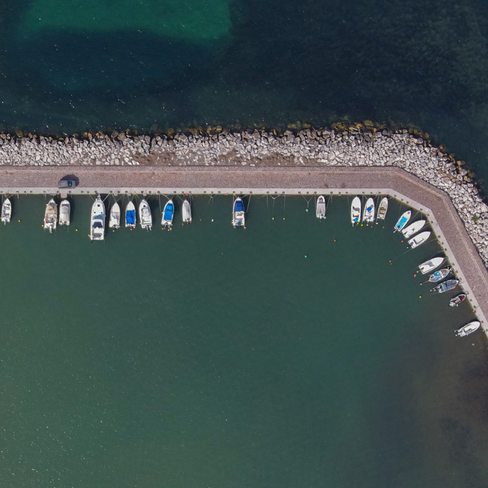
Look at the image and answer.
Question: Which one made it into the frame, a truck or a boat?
boat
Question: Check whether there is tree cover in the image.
No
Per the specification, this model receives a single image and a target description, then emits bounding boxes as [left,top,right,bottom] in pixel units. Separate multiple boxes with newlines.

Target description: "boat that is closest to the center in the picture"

[230,193,245,229]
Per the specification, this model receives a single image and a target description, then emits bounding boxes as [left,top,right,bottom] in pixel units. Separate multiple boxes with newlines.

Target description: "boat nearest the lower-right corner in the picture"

[456,322,479,338]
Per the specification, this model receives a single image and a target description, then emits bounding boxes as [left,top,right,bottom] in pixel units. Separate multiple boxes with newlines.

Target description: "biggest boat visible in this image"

[91,193,105,247]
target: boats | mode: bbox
[43,193,59,230]
[110,195,122,229]
[91,193,105,247]
[139,198,152,230]
[230,193,245,229]
[125,201,136,229]
[401,220,430,238]
[181,196,191,224]
[351,195,361,226]
[456,322,479,338]
[162,194,179,227]
[408,253,449,284]
[364,193,375,224]
[57,194,70,226]
[431,279,457,297]
[377,194,388,222]
[316,194,326,219]
[394,211,413,232]
[447,295,465,307]
[429,269,455,282]
[408,229,439,249]
[2,194,13,224]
